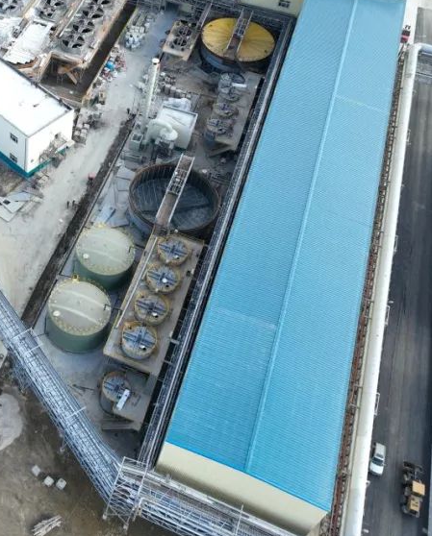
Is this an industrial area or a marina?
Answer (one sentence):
What you see here is an industrial area.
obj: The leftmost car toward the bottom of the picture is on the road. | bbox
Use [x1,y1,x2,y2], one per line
[370,441,387,475]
